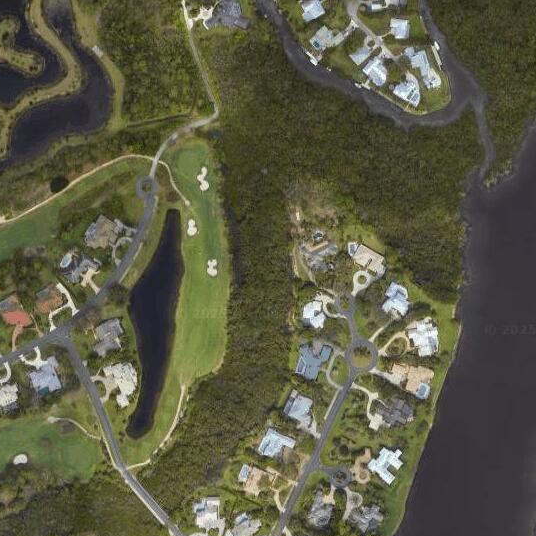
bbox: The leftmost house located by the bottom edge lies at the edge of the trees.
[194,503,219,523]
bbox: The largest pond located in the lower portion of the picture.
[127,209,184,438]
